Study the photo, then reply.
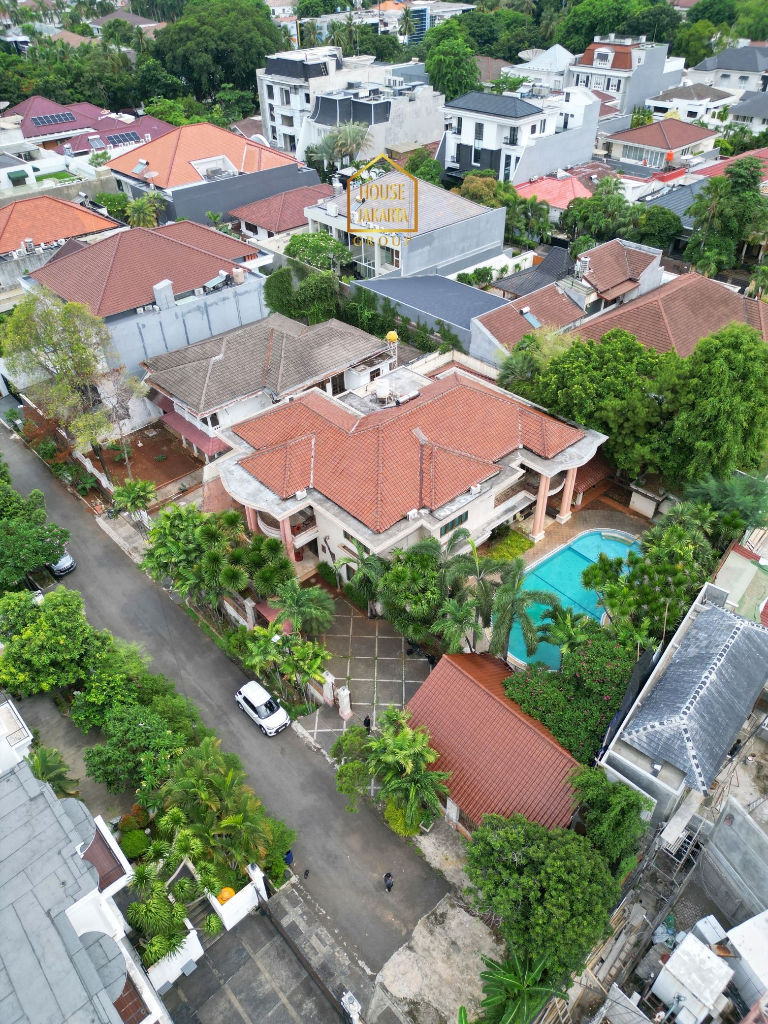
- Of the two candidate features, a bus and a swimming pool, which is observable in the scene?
swimming pool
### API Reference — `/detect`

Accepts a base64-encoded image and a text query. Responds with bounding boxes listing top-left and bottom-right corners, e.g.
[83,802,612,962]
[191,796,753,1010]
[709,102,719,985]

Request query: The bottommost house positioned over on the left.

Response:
[0,762,172,1024]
